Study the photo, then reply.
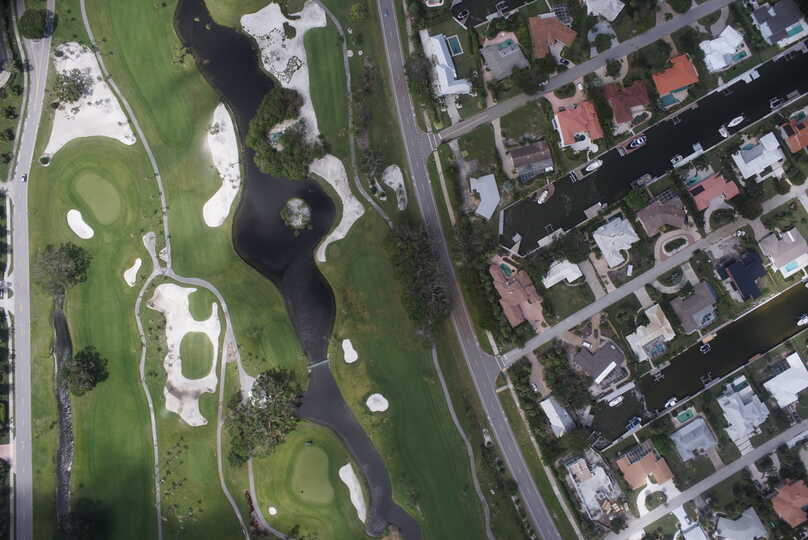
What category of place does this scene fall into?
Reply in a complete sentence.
The area seen from above is a golf course.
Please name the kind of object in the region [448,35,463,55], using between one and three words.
swimming pool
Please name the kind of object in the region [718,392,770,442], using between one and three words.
house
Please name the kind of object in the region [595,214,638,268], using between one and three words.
house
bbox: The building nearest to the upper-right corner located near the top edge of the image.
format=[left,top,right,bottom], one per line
[751,0,802,45]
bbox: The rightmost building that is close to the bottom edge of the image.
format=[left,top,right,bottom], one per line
[770,478,808,529]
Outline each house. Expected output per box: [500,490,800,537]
[682,525,705,540]
[770,478,808,529]
[636,189,688,234]
[481,41,532,86]
[764,352,808,401]
[718,392,770,442]
[780,109,808,153]
[731,130,785,178]
[689,173,738,208]
[529,0,577,60]
[671,419,716,460]
[717,250,766,302]
[554,99,605,147]
[574,337,621,383]
[760,227,808,272]
[584,0,625,24]
[616,441,672,491]
[669,280,716,335]
[715,506,768,540]
[470,174,500,219]
[541,261,583,289]
[428,34,473,98]
[539,396,574,437]
[625,305,676,363]
[699,24,743,71]
[650,54,699,115]
[595,214,638,268]
[599,79,651,126]
[751,0,802,45]
[489,267,543,328]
